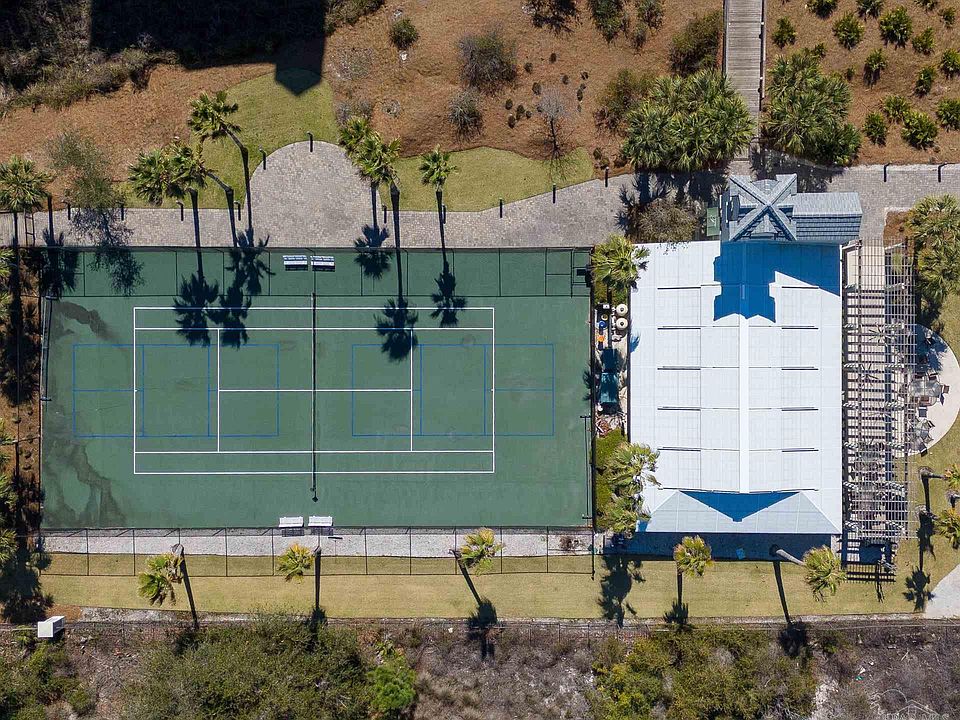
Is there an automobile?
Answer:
No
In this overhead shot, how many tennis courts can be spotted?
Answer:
one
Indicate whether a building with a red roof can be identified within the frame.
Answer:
No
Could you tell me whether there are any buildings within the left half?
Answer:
No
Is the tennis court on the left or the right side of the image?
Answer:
left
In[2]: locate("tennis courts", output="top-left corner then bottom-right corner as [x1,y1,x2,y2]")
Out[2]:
[42,250,592,529]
